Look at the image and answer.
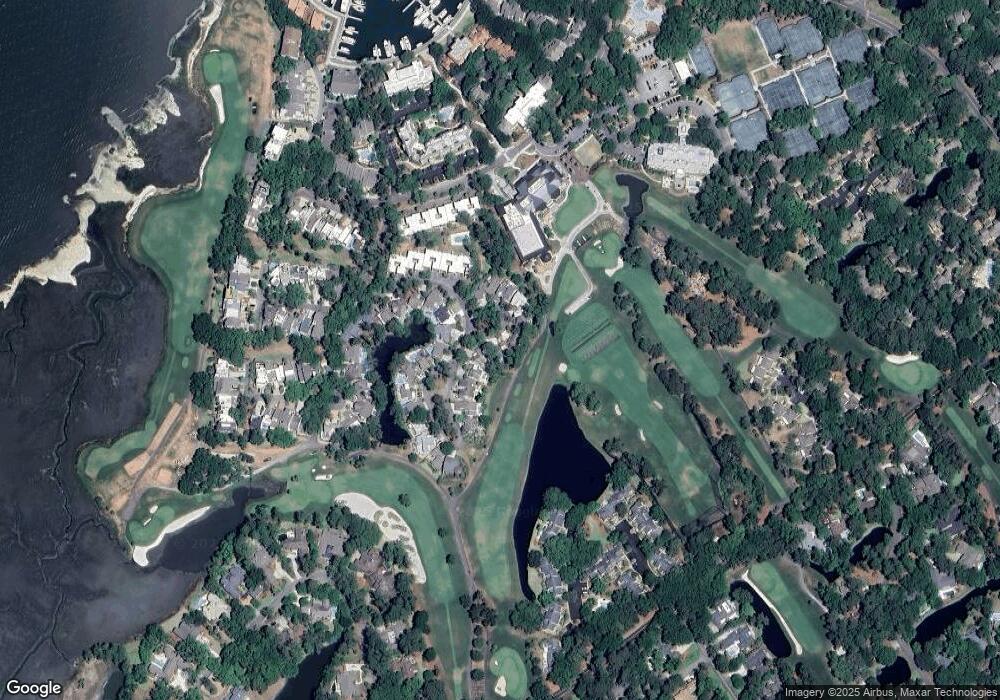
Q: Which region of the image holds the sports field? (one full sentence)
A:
You can find the sports field in the top right area of the picture.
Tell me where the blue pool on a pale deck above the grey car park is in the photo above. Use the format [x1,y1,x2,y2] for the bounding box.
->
[357,146,376,163]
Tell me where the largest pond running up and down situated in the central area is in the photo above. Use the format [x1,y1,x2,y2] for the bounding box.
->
[374,318,431,445]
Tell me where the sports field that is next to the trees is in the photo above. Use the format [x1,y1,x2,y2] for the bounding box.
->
[710,21,771,77]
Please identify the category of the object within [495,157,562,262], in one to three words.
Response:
building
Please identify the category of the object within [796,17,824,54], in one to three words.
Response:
tennis court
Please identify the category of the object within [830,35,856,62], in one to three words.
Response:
tennis court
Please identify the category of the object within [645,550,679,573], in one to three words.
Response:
house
